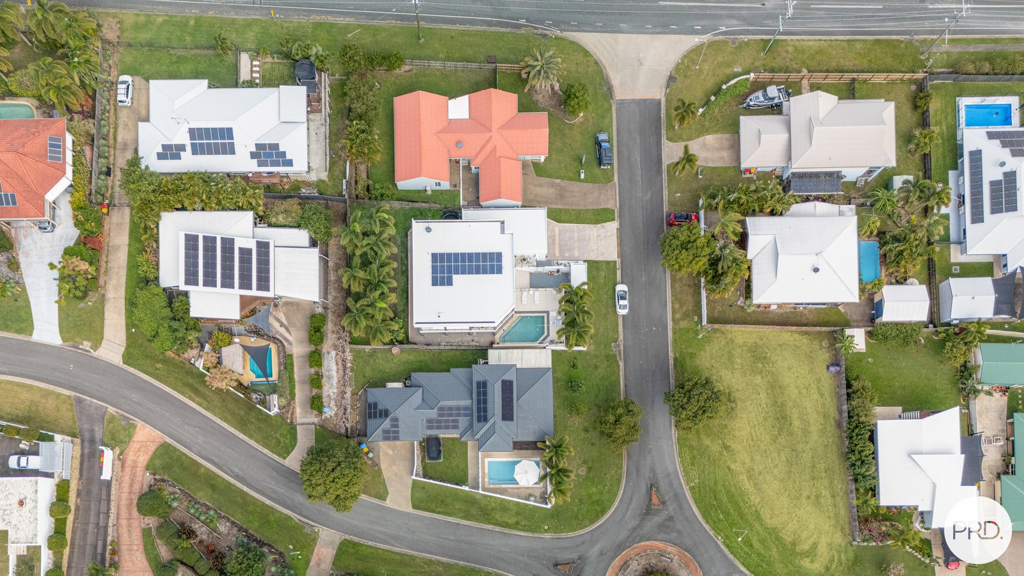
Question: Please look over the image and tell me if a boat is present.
Yes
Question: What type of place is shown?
residential area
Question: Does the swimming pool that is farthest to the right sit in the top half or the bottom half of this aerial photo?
top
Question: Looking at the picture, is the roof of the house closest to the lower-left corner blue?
No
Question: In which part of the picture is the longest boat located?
top right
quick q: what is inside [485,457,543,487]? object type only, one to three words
swimming pool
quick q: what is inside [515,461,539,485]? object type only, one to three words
umbrella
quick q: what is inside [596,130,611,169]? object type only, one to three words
vehicle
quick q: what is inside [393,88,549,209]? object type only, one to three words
house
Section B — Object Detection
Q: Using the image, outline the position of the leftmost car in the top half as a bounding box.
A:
[38,207,54,238]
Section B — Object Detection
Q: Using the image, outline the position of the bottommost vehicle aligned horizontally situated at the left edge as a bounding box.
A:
[10,454,40,469]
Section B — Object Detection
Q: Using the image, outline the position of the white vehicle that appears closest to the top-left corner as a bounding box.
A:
[117,76,133,107]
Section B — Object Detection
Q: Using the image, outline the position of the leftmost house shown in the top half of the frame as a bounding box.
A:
[0,118,81,227]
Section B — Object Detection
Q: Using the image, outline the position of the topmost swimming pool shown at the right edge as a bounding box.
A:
[963,101,1015,128]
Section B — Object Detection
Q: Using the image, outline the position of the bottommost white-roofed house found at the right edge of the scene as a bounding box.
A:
[872,406,977,528]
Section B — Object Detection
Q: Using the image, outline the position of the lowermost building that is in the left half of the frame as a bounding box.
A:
[0,476,53,545]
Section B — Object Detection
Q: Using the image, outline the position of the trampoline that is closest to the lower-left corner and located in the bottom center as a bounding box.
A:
[425,436,443,464]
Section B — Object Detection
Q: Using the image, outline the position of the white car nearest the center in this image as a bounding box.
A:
[614,283,629,315]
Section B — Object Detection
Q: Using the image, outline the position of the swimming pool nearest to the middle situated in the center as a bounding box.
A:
[498,313,546,345]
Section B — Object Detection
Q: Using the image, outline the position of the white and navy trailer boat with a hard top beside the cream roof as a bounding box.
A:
[742,80,798,105]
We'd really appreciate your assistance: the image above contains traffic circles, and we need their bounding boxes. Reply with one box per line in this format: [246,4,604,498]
[606,541,703,576]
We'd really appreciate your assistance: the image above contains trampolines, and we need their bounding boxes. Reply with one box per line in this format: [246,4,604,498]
[441,201,460,219]
[425,436,443,464]
[293,58,317,92]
